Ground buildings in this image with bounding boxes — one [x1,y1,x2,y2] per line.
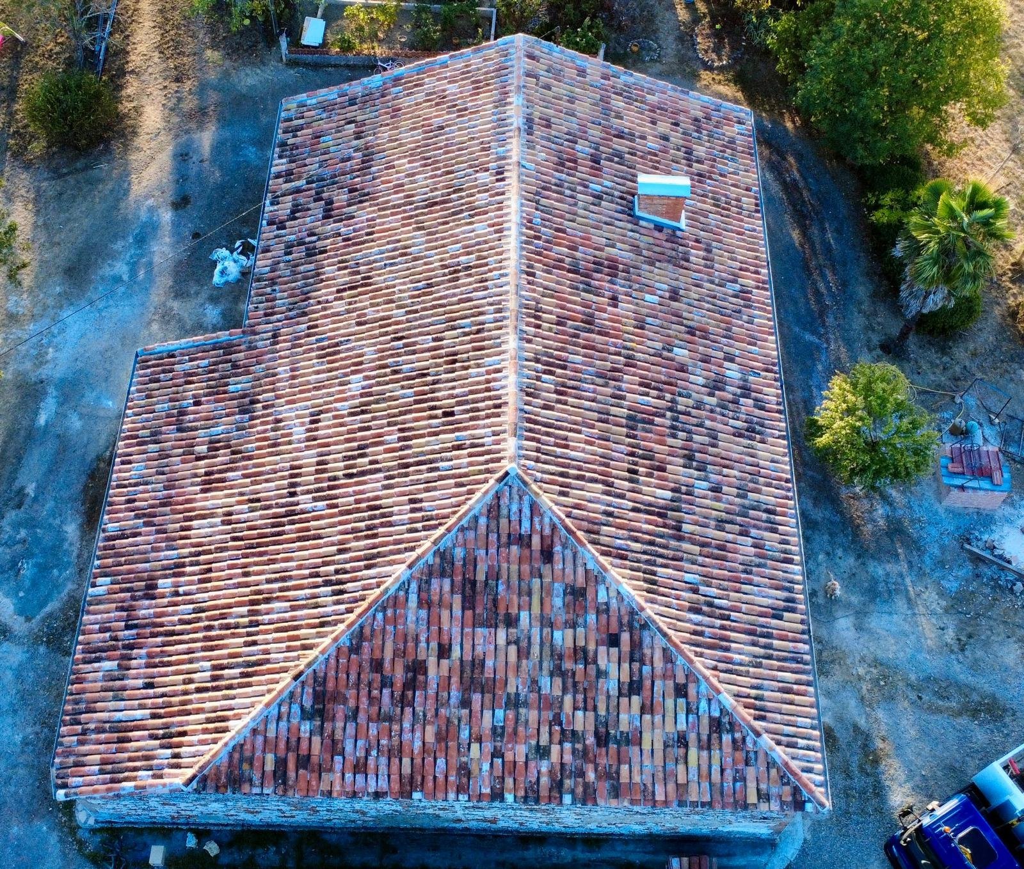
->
[44,29,835,845]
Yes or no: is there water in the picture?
No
